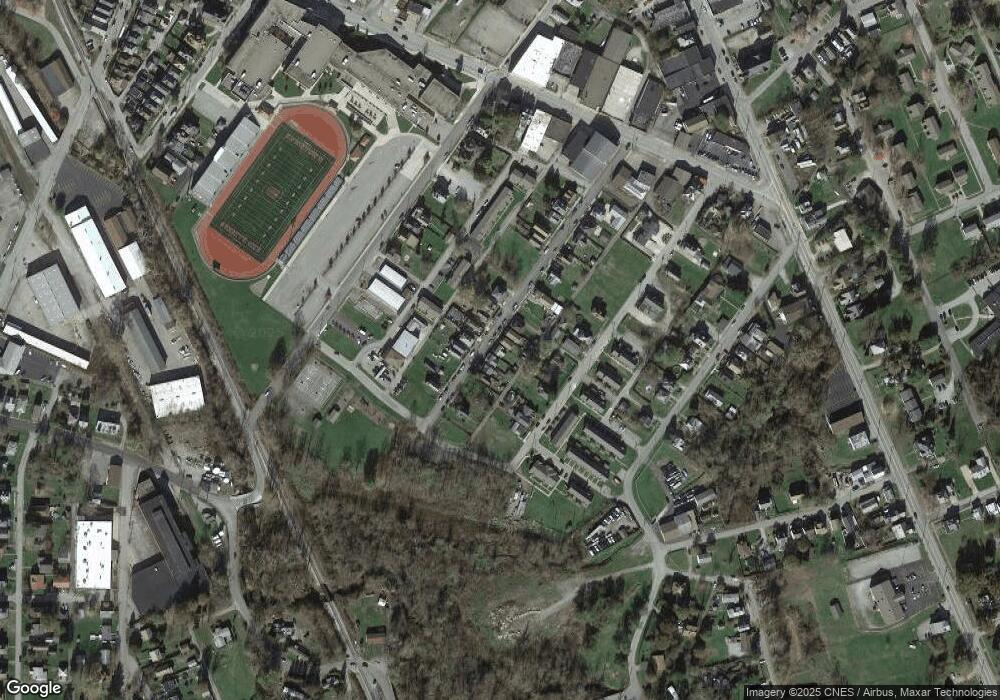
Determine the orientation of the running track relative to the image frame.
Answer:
at an angle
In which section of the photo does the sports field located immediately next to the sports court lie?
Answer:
left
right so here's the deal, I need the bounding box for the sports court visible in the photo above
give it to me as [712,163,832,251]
[292,360,344,409]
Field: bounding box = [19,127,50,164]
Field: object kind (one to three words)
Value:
building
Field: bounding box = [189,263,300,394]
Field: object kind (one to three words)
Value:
sports field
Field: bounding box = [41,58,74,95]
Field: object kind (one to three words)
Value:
barn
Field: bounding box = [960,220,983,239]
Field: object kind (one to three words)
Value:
house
